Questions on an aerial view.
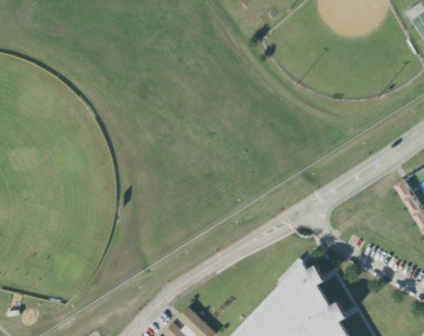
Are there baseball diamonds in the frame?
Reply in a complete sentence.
Yes, you can see a baseball diamond in this photo.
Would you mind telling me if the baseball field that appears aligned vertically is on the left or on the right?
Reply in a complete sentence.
The baseball field that appears aligned vertically is on the left side of the image.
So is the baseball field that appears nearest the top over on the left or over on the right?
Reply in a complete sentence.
The baseball field that appears nearest the top appears in the right half of the scene.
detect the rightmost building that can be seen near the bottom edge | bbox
[232,260,348,336]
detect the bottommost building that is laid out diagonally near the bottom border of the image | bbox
[178,307,216,336]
